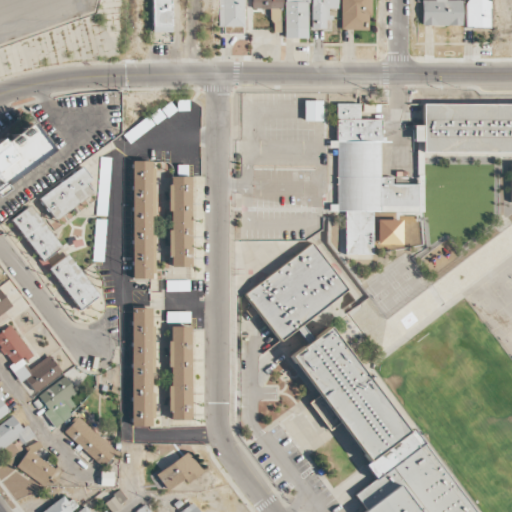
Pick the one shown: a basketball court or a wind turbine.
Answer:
basketball court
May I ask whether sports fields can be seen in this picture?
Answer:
Yes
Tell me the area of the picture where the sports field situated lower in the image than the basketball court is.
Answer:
bottom right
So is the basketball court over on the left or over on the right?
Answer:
right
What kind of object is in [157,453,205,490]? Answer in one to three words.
house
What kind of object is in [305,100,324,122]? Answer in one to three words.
shed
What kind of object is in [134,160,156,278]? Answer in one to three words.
building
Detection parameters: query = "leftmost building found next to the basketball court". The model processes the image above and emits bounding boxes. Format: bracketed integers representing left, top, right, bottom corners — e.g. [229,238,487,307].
[246,245,348,340]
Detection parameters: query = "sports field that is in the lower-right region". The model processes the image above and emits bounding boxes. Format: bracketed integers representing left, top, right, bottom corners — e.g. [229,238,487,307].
[380,298,512,512]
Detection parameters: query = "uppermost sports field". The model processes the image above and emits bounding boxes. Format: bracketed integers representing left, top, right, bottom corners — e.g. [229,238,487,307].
[426,165,494,256]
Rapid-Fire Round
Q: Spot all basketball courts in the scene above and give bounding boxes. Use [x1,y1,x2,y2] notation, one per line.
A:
[362,254,431,318]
